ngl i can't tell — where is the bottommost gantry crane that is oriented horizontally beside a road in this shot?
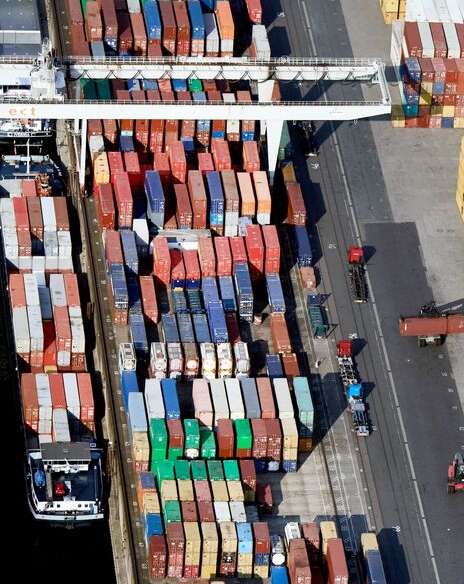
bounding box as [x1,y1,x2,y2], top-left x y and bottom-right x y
[0,51,392,195]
